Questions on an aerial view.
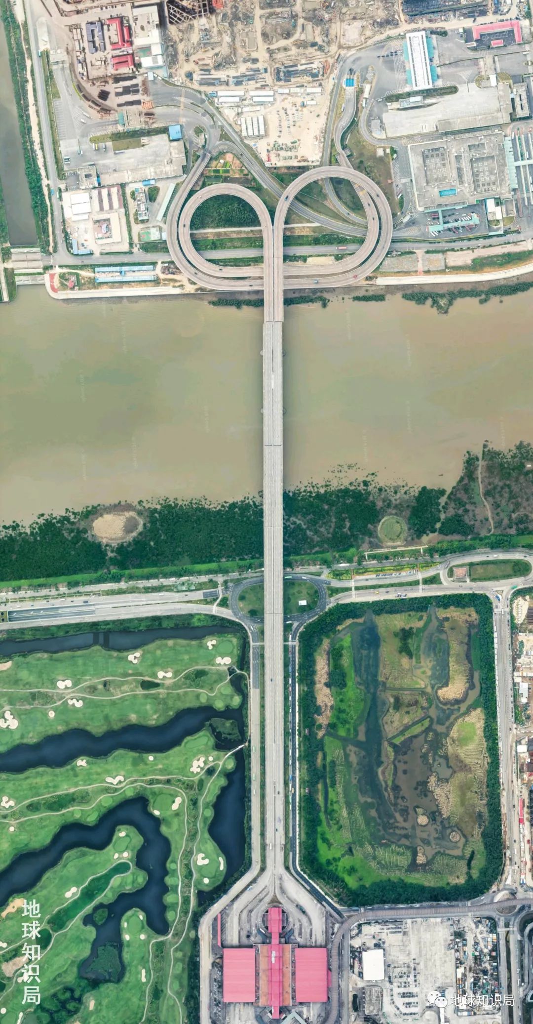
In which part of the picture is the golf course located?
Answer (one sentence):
The golf course appears toward the bottom left of the photo.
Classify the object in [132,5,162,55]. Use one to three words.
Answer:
building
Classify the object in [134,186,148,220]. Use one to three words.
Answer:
building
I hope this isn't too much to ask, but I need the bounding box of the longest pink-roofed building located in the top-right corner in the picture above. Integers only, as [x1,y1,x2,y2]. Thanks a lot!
[473,19,523,43]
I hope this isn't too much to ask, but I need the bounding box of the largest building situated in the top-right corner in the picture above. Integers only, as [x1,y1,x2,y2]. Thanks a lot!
[409,130,513,211]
